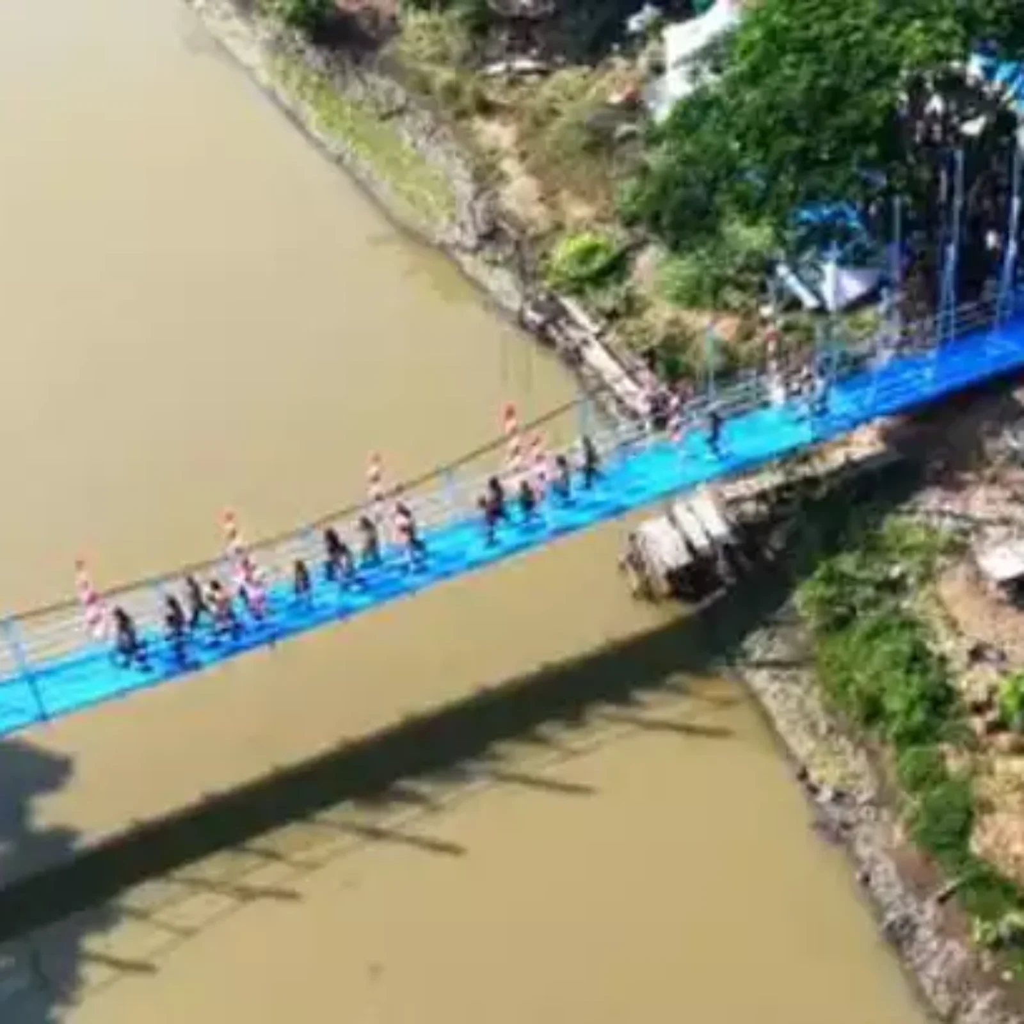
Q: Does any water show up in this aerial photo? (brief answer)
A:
Yes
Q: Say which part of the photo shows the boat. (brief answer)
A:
top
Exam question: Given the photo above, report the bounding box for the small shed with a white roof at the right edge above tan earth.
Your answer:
[976,539,1024,614]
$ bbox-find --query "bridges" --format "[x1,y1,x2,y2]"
[0,94,1024,748]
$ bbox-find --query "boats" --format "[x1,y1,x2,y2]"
[481,56,556,78]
